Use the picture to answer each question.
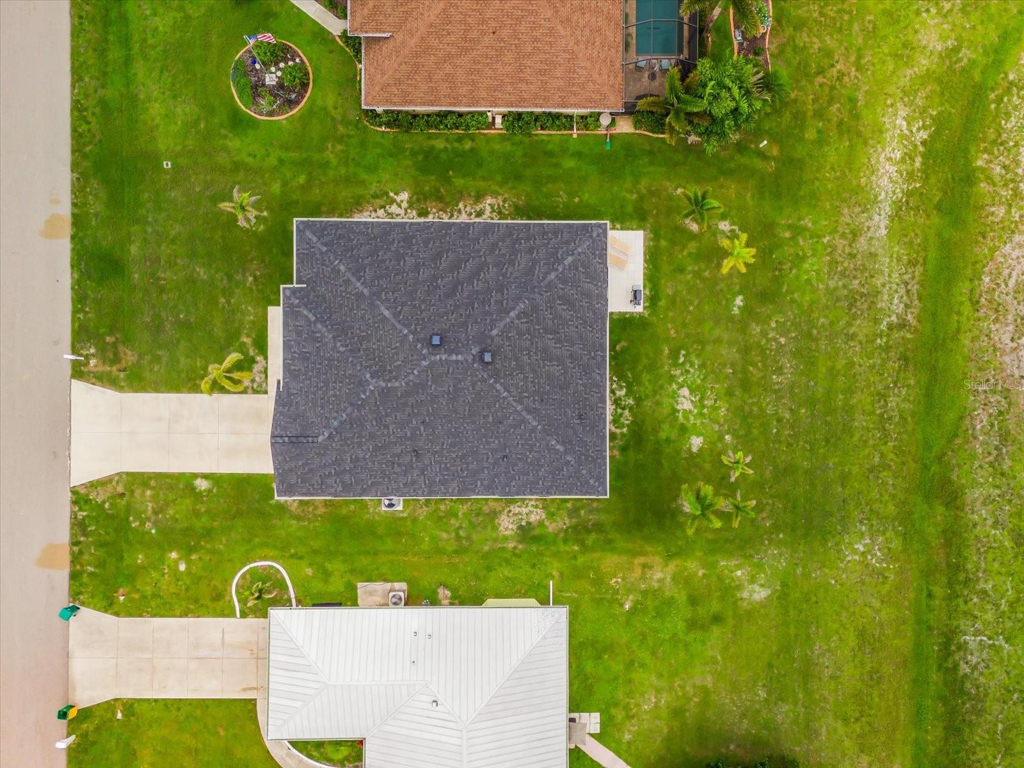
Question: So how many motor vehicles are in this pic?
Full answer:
The photo contains no motor vehicles.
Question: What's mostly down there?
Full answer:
The largest share of the image is taken up by grass.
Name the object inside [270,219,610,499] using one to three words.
house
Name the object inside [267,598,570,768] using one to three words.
house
